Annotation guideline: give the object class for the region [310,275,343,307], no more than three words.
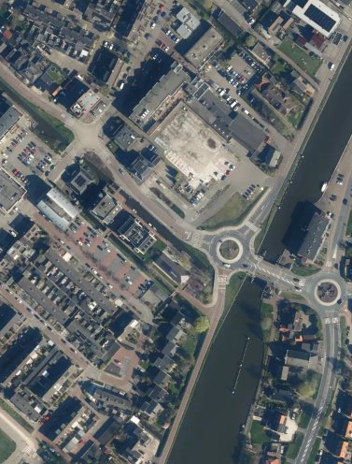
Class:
roundabout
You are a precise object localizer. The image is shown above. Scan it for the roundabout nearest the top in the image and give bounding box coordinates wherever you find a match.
[210,233,247,269]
